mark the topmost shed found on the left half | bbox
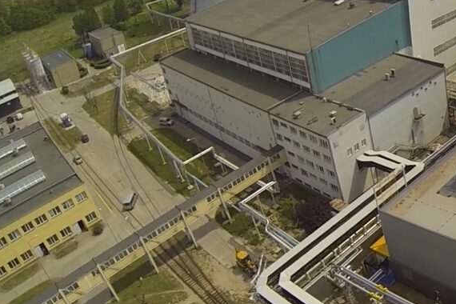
[87,25,129,57]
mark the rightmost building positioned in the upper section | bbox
[154,0,456,202]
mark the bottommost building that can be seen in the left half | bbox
[0,120,102,282]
